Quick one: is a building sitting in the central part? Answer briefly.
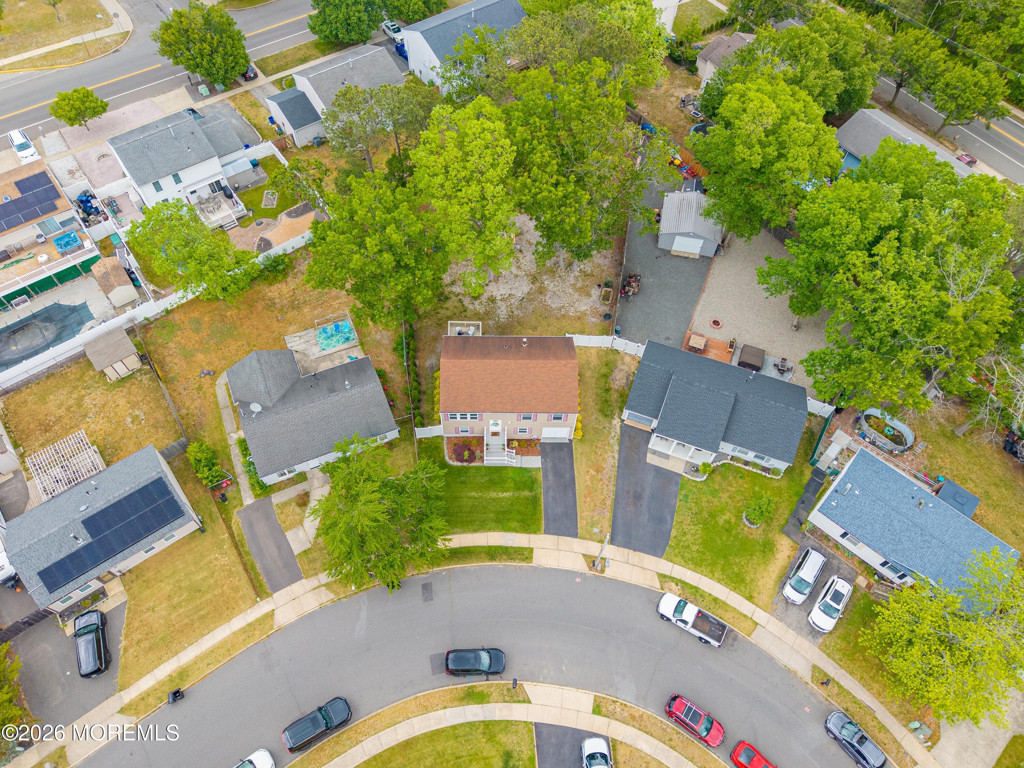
Yes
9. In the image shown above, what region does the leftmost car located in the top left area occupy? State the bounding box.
[9,128,41,161]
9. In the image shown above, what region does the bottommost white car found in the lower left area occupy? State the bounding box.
[240,744,281,768]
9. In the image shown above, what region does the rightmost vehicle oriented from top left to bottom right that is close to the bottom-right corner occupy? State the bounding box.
[819,708,892,768]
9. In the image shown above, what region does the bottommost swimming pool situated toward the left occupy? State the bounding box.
[0,299,95,371]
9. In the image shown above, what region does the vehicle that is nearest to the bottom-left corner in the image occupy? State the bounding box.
[69,608,112,682]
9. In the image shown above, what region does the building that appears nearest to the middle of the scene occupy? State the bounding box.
[439,335,579,438]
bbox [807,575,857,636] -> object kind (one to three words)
car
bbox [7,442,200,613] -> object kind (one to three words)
house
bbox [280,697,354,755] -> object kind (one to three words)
car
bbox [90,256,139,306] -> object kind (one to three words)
shed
